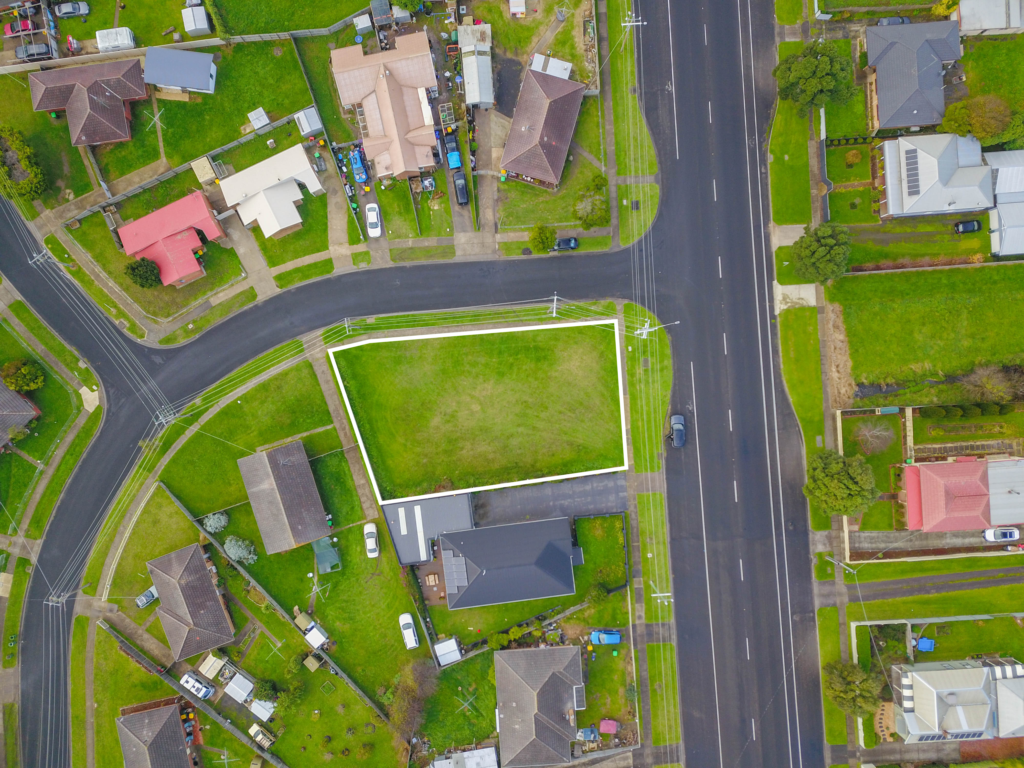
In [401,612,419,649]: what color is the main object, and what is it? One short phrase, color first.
white car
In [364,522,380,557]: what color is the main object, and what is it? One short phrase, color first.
white car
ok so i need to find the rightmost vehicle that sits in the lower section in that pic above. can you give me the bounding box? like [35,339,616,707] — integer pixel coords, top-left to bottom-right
[981,526,1020,542]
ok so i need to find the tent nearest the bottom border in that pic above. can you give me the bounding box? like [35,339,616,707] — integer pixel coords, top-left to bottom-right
[311,533,344,574]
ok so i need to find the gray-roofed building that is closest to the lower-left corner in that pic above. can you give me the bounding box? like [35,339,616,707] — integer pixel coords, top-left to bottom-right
[115,701,196,768]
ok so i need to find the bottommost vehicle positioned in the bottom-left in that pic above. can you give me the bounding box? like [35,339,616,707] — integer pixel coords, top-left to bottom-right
[249,721,279,750]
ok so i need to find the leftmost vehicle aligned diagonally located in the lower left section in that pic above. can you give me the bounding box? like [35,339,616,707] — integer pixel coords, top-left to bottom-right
[133,585,157,609]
